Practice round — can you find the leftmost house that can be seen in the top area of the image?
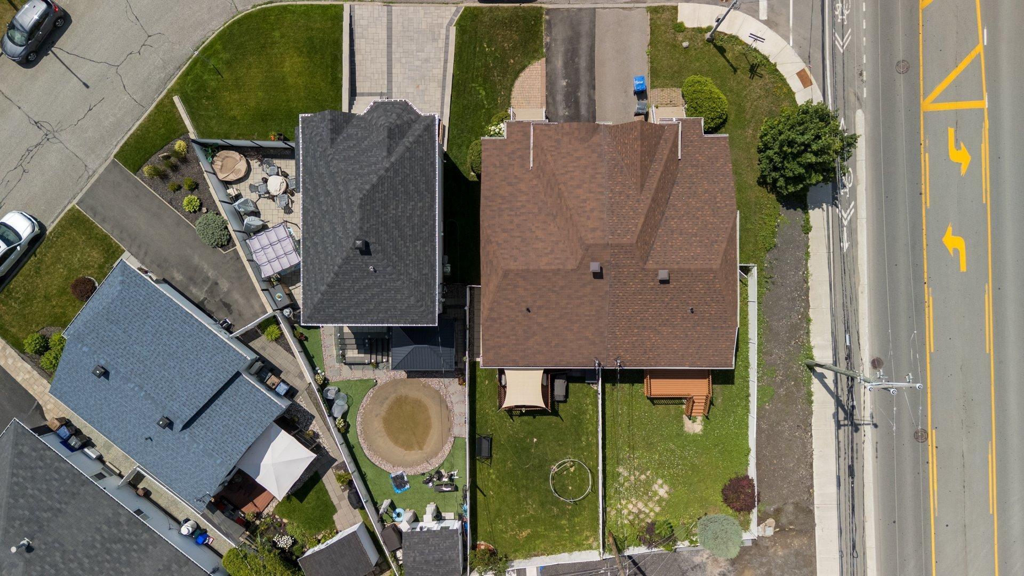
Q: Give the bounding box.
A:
[295,99,453,325]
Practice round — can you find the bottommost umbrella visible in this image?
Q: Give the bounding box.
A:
[376,500,392,525]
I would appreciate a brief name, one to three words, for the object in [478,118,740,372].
house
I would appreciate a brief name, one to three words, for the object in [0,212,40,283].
car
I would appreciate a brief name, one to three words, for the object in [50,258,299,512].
house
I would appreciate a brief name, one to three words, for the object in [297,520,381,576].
shed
